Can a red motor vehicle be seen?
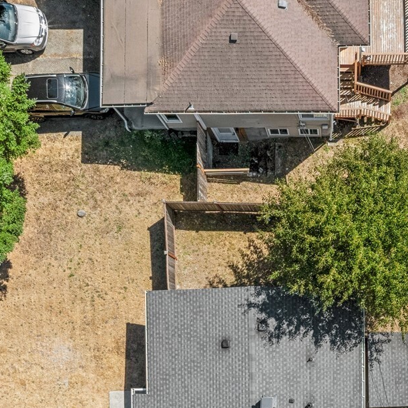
No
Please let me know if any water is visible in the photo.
No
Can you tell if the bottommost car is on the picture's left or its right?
left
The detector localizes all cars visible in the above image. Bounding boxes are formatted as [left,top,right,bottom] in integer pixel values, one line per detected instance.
[17,68,118,123]
[0,0,52,52]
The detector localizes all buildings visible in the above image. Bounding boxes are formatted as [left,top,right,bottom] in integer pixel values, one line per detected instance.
[99,0,373,149]
[130,288,368,408]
